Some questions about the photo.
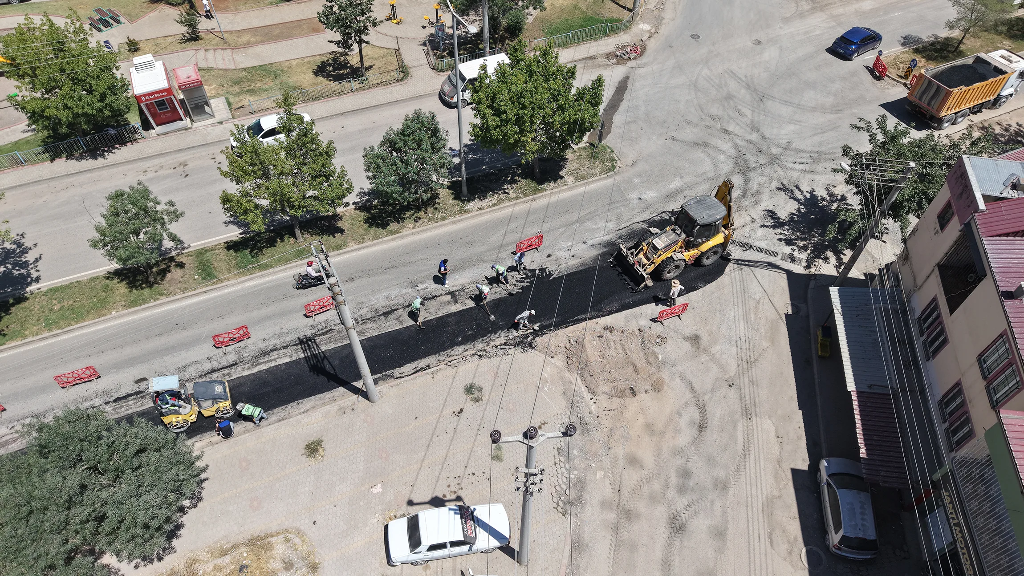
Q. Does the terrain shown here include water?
No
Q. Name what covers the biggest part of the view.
paved ground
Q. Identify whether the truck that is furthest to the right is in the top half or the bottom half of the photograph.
top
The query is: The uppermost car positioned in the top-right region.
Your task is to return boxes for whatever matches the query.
[829,23,887,60]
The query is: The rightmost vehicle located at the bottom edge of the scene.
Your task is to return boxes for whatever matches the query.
[819,455,887,569]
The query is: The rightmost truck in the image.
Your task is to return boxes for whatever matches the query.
[905,34,1024,126]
